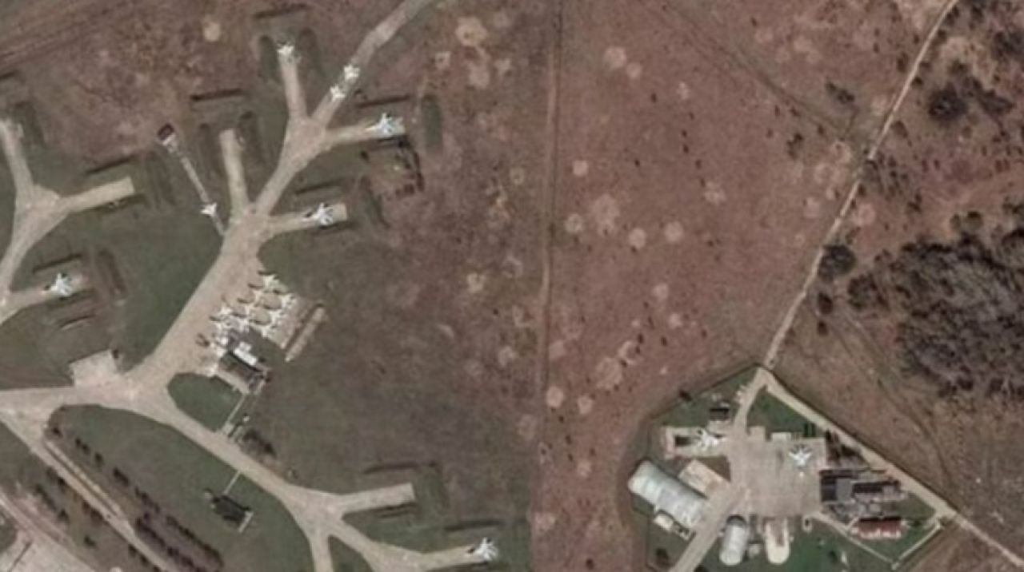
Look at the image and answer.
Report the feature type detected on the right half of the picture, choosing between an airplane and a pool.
airplane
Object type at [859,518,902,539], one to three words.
house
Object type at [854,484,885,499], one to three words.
building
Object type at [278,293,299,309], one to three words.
airplane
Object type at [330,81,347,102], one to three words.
airplane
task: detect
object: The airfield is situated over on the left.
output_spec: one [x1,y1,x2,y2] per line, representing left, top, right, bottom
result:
[0,0,492,572]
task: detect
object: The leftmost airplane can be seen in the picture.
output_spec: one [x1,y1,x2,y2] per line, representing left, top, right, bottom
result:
[42,274,75,295]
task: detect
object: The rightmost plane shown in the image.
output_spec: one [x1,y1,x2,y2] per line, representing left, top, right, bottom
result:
[789,441,811,474]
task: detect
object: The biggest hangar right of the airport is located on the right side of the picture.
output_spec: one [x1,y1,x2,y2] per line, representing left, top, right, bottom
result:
[628,460,709,526]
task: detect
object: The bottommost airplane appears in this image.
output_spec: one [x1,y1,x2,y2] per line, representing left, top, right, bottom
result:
[467,539,499,560]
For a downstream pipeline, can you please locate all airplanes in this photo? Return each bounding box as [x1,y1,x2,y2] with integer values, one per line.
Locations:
[344,61,361,84]
[277,39,293,64]
[278,293,299,309]
[330,81,347,102]
[227,317,248,333]
[249,289,270,304]
[215,304,237,320]
[467,539,499,560]
[692,428,723,449]
[789,441,811,474]
[203,343,224,359]
[305,203,338,224]
[260,274,281,291]
[200,198,216,222]
[366,113,398,135]
[216,332,238,348]
[254,324,277,340]
[42,274,75,295]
